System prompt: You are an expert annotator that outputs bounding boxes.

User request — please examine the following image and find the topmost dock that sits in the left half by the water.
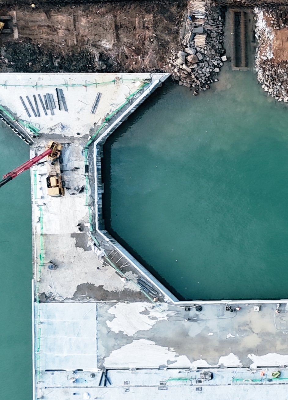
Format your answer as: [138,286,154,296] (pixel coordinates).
[0,72,183,303]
